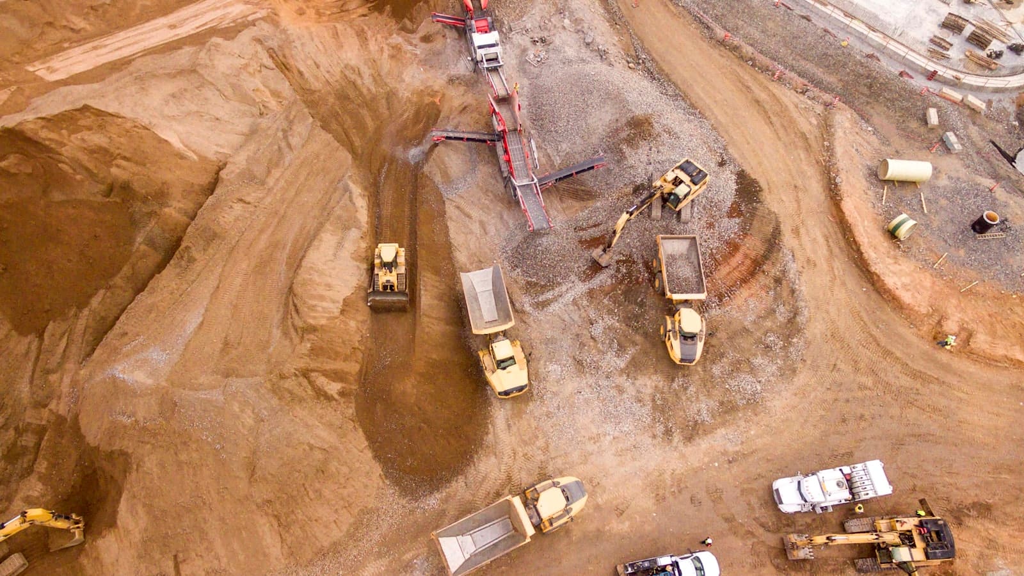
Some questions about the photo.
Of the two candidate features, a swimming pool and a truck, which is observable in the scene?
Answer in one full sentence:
Of the two, only a truck appears.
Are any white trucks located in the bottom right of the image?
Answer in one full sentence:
Yes, a white truck appears in the bottom right of the image.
